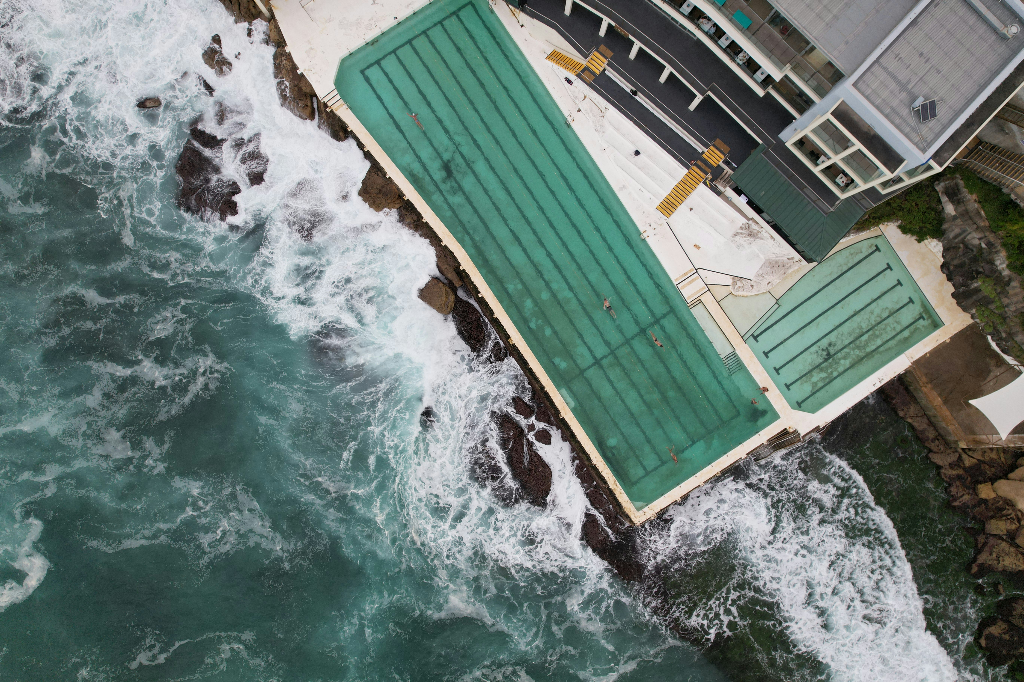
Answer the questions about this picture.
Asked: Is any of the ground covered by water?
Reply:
Yes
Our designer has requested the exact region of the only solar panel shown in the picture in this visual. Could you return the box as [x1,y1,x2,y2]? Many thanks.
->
[912,98,945,122]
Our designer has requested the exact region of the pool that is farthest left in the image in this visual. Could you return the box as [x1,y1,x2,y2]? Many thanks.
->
[340,0,772,509]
